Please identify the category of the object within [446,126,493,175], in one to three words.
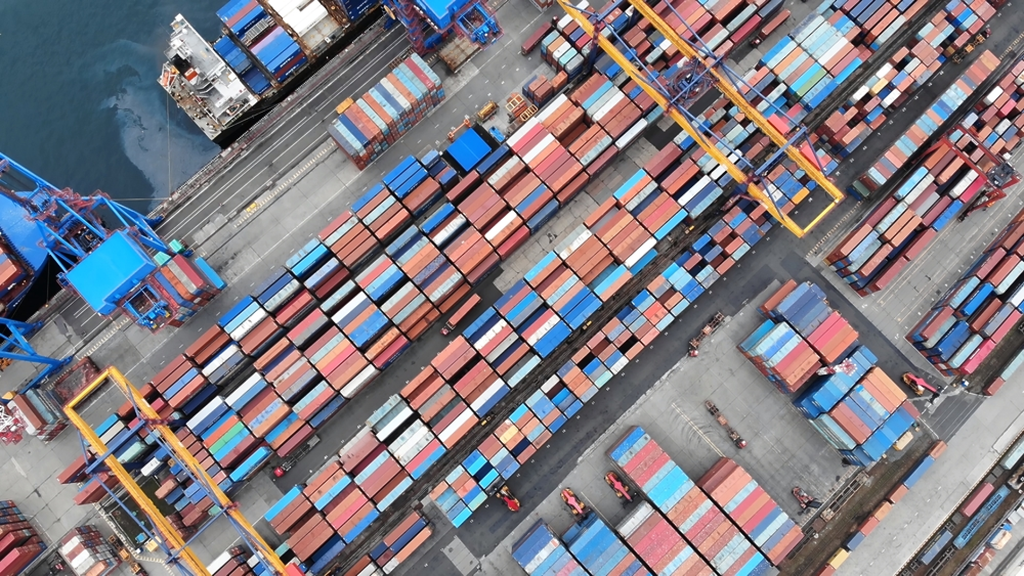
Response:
shed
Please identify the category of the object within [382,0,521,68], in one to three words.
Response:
container crane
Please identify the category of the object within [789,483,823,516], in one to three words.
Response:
work vehicle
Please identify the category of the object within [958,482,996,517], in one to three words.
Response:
shipping container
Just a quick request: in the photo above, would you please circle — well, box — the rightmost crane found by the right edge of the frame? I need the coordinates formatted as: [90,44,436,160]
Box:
[906,122,1024,221]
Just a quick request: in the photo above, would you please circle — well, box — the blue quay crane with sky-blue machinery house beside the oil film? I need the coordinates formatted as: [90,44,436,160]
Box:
[0,148,206,354]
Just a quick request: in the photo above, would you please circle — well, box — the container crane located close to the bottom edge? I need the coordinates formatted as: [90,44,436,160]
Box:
[61,357,330,576]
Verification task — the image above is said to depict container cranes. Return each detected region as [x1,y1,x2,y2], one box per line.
[0,148,206,354]
[0,312,81,417]
[61,357,330,576]
[906,122,1024,221]
[382,0,521,68]
[548,0,849,245]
